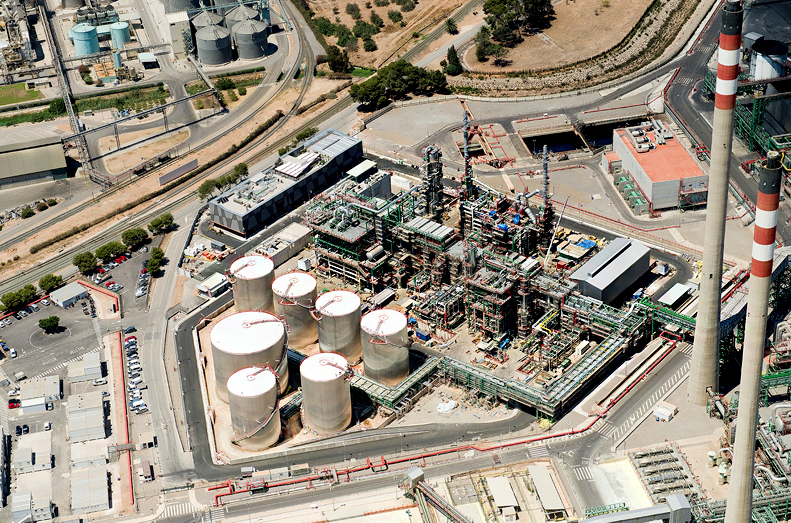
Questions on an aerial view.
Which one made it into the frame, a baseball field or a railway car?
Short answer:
railway car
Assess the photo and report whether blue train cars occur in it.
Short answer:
No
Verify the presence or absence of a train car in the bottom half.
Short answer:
No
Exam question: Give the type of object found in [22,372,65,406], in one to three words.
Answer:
building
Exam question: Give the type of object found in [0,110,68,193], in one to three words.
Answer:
shed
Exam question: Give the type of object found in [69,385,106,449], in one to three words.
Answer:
building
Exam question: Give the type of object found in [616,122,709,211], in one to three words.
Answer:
house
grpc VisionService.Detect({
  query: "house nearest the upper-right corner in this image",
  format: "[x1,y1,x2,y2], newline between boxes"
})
[740,32,759,59]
